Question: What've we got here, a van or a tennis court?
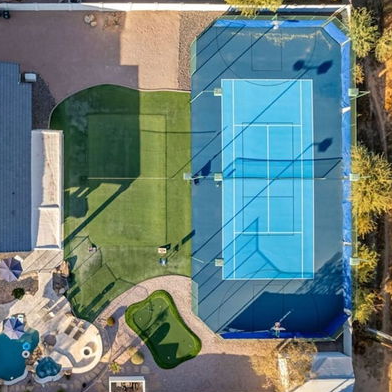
tennis court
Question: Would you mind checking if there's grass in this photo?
Yes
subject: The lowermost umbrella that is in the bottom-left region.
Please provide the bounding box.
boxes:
[4,316,26,337]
